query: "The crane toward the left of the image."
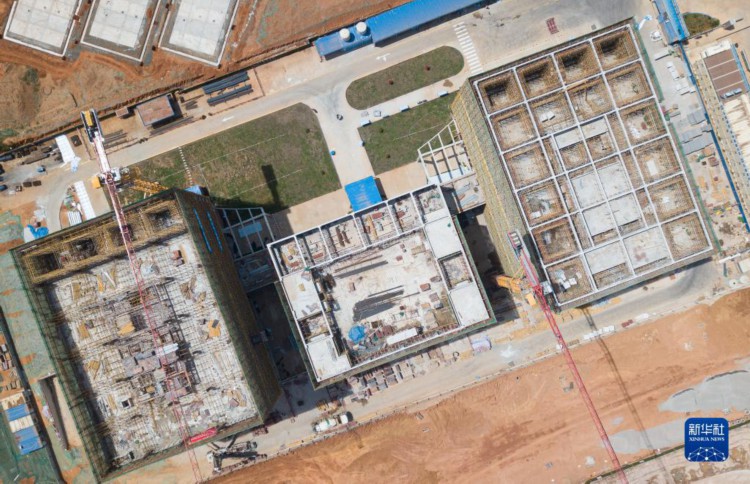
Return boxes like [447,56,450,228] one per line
[78,105,205,484]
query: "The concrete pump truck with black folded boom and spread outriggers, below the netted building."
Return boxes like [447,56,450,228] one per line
[203,439,272,477]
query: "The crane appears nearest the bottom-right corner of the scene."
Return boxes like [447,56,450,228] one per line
[481,232,634,484]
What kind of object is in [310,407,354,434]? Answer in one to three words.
truck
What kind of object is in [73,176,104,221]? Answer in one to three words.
shed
